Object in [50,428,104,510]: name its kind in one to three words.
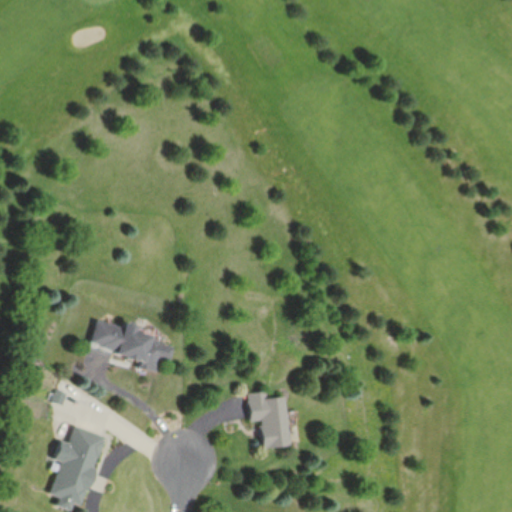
house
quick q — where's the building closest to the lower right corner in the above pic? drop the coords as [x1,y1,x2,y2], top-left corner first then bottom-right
[247,393,292,450]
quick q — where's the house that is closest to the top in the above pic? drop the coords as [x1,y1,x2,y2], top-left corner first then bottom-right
[92,318,175,372]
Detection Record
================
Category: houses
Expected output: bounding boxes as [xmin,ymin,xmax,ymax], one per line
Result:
[92,318,175,372]
[50,428,104,510]
[247,393,292,450]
